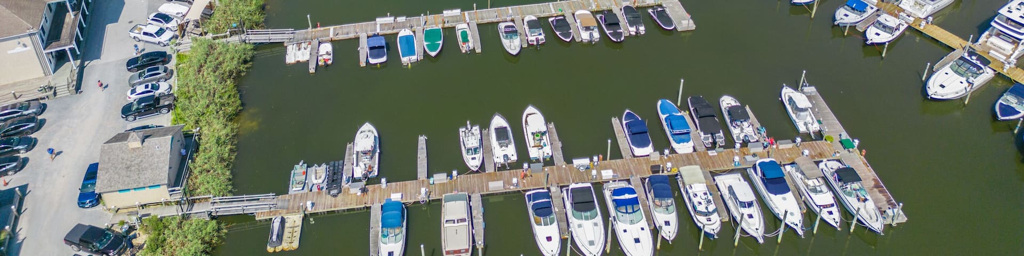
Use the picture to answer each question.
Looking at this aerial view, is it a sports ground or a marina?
marina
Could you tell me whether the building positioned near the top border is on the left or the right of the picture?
left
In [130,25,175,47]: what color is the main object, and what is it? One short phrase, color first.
white truck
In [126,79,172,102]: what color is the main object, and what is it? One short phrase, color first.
white car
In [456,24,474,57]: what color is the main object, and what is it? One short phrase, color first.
white boat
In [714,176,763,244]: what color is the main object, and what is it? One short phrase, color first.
white boat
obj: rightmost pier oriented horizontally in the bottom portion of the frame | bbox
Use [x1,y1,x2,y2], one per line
[255,141,843,222]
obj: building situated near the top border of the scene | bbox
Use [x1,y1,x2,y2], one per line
[0,0,94,87]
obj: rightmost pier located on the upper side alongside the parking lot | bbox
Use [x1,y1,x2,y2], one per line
[283,0,668,47]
